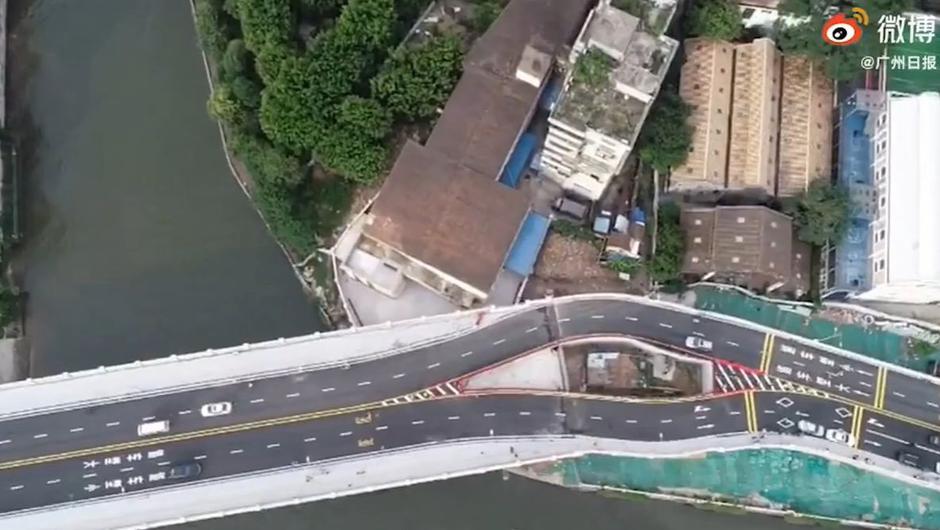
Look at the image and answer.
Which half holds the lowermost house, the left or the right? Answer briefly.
right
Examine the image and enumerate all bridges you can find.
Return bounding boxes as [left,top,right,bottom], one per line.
[0,293,940,530]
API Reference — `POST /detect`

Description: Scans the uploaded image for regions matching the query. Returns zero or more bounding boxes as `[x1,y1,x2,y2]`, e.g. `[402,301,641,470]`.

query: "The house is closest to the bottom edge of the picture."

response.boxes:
[588,353,639,389]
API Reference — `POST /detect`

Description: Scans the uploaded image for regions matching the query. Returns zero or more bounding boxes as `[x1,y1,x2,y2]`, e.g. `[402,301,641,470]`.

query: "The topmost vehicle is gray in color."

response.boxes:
[554,196,592,220]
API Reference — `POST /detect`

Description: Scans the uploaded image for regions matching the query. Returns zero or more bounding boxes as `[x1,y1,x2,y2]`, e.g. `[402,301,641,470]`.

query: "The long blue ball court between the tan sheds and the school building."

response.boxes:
[838,96,873,292]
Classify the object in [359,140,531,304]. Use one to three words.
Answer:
building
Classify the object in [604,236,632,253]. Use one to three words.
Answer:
shed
